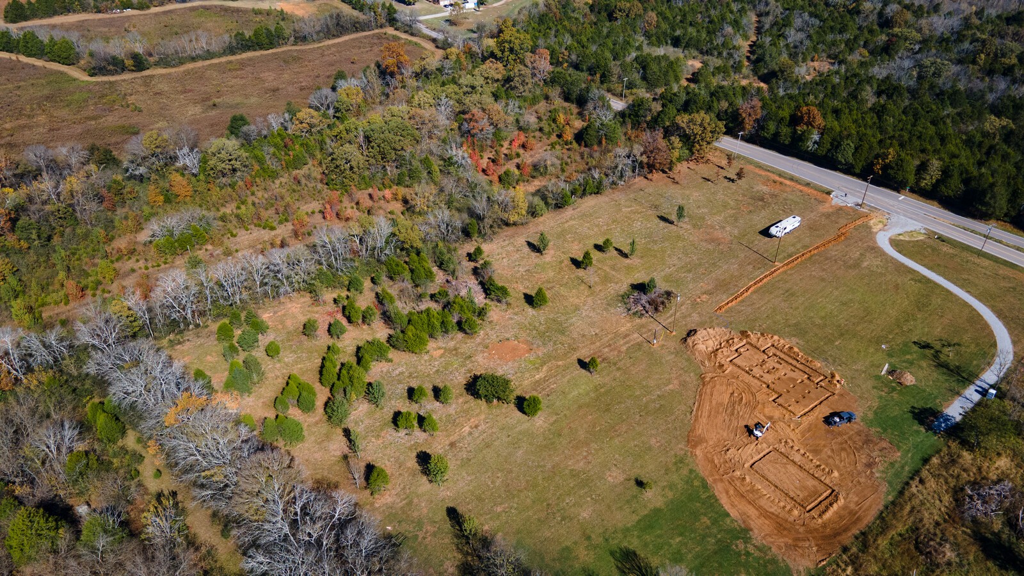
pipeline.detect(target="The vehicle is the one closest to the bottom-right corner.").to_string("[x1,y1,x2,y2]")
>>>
[824,408,858,427]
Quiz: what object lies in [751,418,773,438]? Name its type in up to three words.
work vehicle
